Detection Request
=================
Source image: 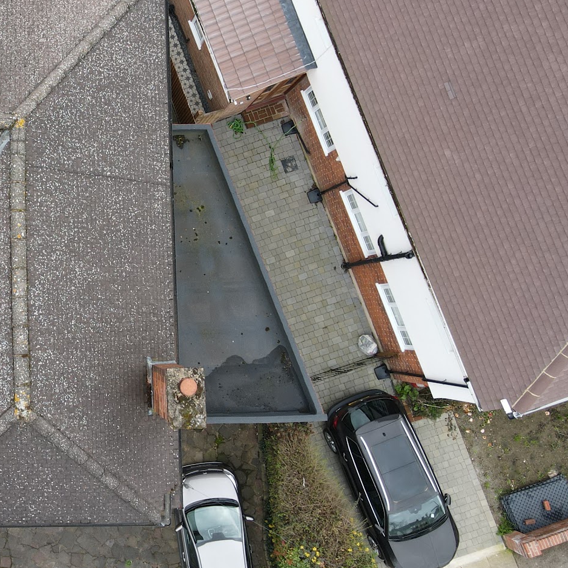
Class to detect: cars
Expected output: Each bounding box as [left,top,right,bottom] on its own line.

[320,378,464,568]
[181,459,265,568]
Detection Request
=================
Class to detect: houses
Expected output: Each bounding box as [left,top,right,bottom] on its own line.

[274,0,568,421]
[0,0,206,539]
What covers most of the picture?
buildings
